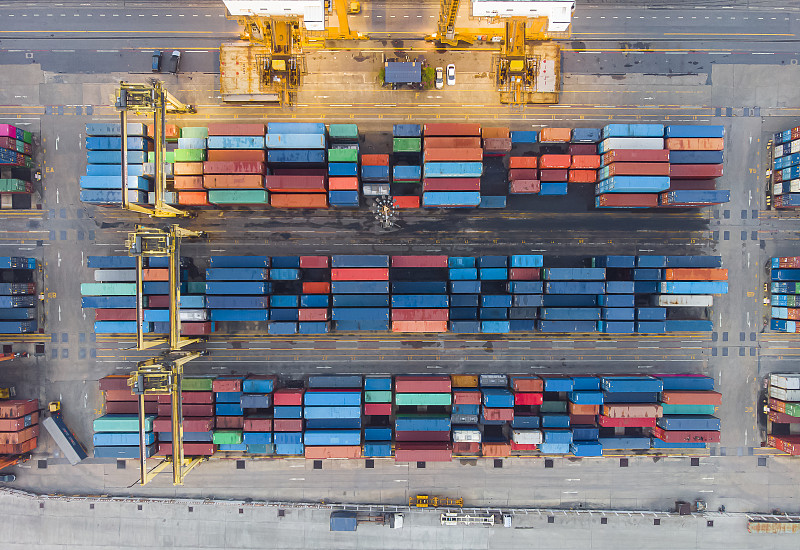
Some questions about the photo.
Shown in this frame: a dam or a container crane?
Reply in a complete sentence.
Of the two, only a container crane appears.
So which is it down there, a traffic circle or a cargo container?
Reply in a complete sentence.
Visible in the photo is a cargo container.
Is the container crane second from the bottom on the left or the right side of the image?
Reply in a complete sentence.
The container crane second from the bottom is on the left side of the image.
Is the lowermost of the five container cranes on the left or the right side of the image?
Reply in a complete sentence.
The lowermost of the five container cranes is on the left side of the image.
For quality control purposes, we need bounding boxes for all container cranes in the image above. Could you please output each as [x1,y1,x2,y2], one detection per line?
[424,0,576,110]
[111,74,200,213]
[220,0,366,110]
[124,220,212,353]
[126,350,213,492]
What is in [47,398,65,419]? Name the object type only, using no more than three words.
vehicle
